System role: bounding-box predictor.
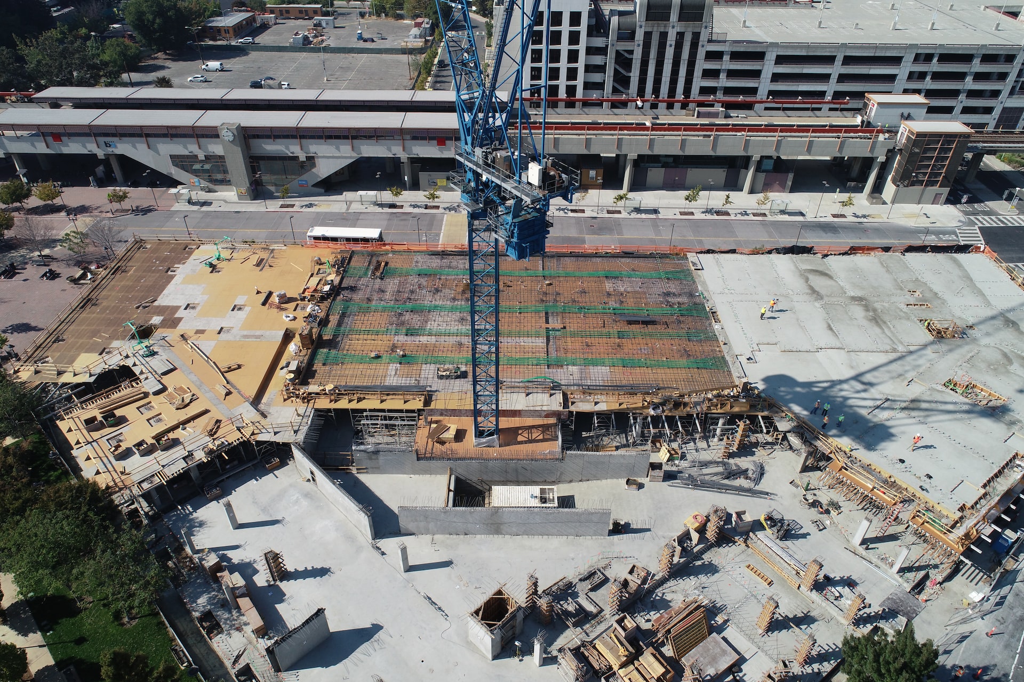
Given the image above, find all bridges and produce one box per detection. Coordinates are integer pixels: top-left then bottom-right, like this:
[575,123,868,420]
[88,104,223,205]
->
[953,118,1024,182]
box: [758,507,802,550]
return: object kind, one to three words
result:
work vehicle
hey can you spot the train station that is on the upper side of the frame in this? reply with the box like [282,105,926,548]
[0,81,896,192]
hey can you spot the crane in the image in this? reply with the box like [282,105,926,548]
[430,0,597,439]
